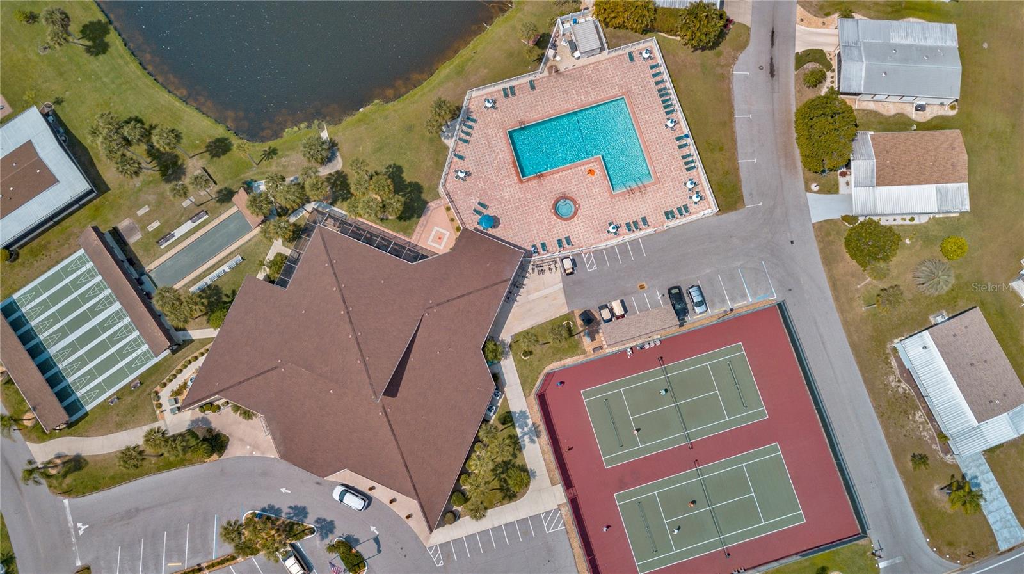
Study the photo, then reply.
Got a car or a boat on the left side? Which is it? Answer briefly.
car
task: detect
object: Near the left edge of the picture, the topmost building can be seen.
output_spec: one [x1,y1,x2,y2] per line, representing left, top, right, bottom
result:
[0,107,97,249]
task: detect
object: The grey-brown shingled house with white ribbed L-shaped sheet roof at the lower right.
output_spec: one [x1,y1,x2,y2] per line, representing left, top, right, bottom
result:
[895,308,1024,457]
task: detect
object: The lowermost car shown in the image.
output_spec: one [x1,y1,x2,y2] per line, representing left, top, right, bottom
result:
[282,542,311,574]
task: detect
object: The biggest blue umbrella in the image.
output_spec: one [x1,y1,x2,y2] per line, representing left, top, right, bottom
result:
[477,210,495,227]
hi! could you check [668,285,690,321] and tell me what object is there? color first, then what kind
black car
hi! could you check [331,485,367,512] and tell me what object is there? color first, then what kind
white car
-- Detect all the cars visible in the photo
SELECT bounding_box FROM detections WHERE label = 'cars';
[331,485,367,512]
[687,283,709,316]
[282,542,311,574]
[668,285,690,321]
